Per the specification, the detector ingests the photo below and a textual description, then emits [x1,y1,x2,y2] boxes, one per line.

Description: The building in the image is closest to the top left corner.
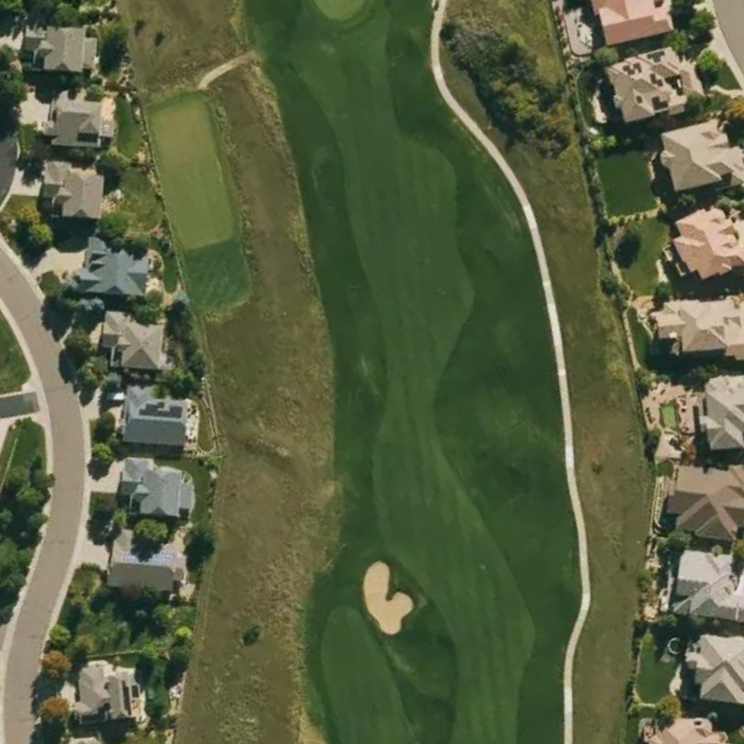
[24,26,96,71]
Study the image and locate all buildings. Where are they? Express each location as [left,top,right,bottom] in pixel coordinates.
[43,161,104,218]
[74,662,137,720]
[649,718,726,744]
[676,205,744,282]
[654,298,744,360]
[121,384,186,445]
[662,118,744,190]
[690,636,744,708]
[120,457,195,517]
[593,0,675,44]
[608,48,706,123]
[24,26,96,71]
[671,550,744,624]
[668,464,744,538]
[43,90,102,146]
[71,233,150,299]
[700,374,744,451]
[102,311,163,370]
[106,529,187,592]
